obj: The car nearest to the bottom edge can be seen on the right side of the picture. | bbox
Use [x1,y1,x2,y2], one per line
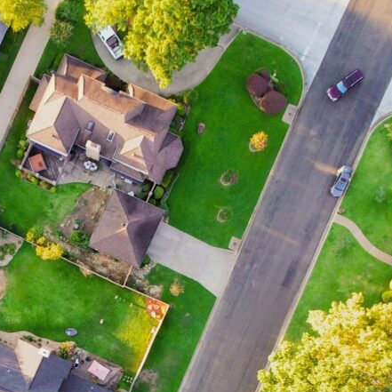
[329,164,354,199]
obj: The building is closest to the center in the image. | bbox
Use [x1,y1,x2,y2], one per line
[88,188,166,268]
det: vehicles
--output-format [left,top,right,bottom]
[96,24,125,63]
[326,68,365,101]
[329,164,354,199]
